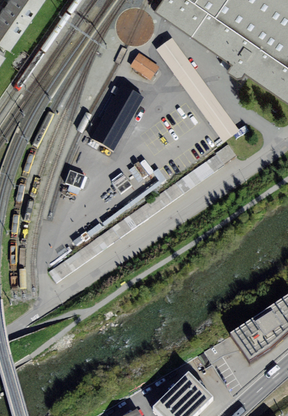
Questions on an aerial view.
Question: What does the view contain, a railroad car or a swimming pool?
railroad car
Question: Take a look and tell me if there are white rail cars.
Yes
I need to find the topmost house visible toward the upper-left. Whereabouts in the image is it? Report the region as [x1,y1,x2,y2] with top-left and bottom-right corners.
[0,0,46,56]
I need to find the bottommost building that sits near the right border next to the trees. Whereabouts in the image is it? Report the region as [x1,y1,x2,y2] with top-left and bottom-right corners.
[230,294,288,362]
